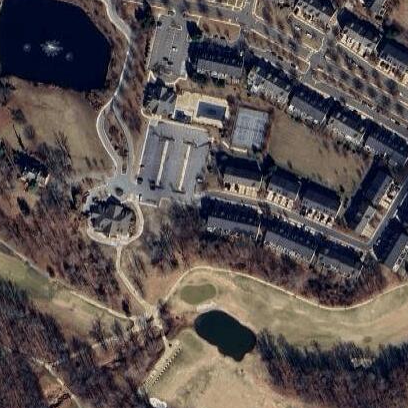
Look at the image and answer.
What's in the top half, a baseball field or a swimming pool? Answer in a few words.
swimming pool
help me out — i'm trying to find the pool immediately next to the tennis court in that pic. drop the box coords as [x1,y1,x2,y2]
[174,92,229,128]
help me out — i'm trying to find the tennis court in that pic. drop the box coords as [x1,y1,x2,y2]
[230,106,268,151]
